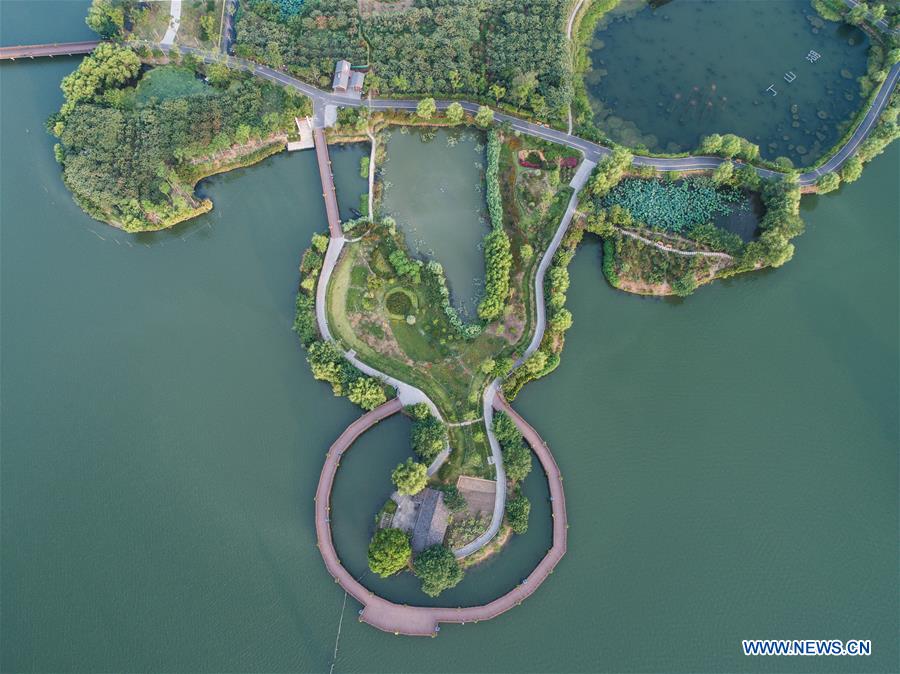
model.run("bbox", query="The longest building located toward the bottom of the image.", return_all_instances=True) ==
[412,488,451,550]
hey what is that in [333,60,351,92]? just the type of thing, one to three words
house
